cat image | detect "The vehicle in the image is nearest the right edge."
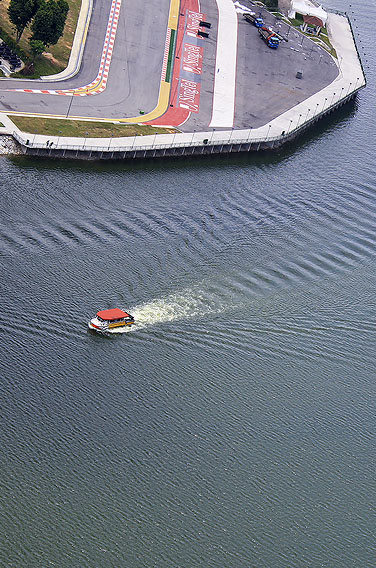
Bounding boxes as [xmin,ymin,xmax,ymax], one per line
[260,27,286,49]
